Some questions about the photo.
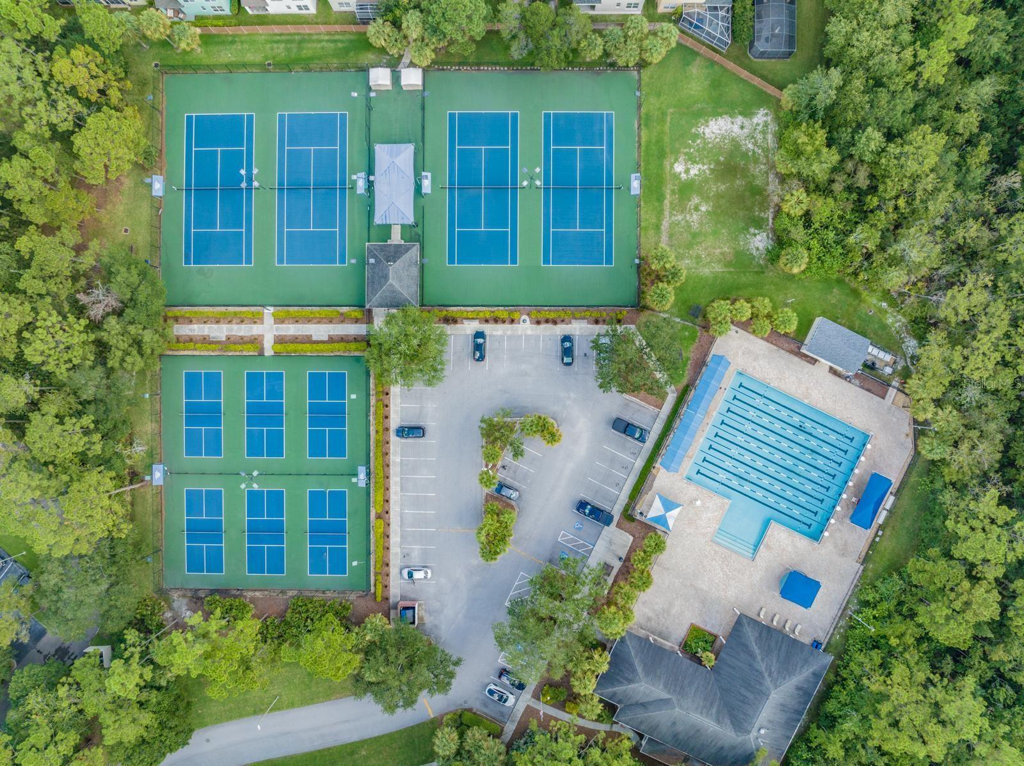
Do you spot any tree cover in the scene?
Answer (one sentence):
Yes, there's tree cover in this view.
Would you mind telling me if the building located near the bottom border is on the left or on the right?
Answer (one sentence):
The building located near the bottom border is on the right side of the image.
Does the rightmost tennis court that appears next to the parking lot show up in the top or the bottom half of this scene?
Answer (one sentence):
The rightmost tennis court that appears next to the parking lot sits in the top half of the picture.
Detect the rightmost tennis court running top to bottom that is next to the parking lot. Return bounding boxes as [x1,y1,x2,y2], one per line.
[531,70,639,304]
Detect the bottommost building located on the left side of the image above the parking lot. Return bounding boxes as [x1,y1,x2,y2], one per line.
[365,242,420,308]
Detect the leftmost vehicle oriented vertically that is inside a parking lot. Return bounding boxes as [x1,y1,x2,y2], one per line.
[472,330,486,361]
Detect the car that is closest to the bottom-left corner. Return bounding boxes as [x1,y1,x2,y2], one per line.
[401,568,432,587]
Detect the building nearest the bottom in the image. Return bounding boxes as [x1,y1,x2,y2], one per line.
[592,607,832,766]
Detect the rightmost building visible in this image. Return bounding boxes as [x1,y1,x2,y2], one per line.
[800,316,870,374]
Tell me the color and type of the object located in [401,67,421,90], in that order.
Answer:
white tent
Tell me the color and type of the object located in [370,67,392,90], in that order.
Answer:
white tent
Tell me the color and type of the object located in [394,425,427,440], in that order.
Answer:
blue car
